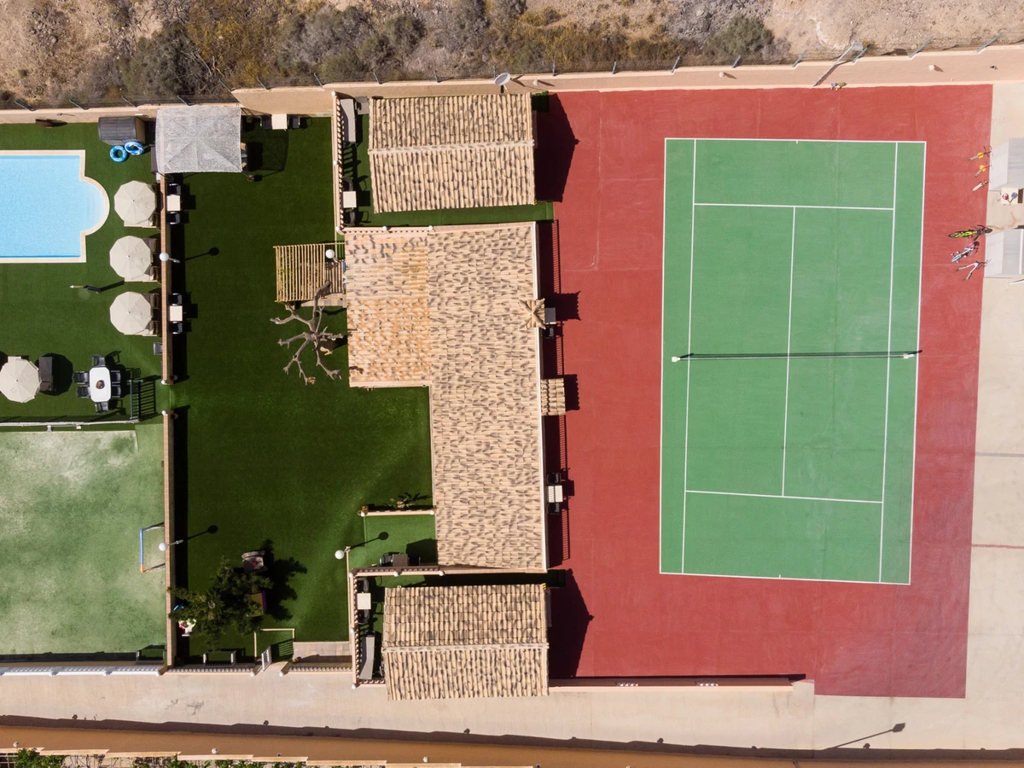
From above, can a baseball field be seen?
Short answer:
No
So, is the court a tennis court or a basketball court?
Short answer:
tennis court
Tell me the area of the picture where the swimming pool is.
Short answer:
top left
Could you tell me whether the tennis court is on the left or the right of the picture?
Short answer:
right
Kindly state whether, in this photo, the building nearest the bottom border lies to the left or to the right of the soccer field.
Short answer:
right of it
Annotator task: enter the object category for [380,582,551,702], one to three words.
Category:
building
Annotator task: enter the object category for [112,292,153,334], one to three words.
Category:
umbrella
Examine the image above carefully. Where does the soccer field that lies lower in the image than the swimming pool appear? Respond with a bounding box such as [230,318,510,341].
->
[0,424,171,669]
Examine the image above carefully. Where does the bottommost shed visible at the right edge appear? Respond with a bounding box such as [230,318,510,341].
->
[986,232,1024,277]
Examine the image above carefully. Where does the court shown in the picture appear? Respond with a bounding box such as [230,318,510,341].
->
[512,90,992,699]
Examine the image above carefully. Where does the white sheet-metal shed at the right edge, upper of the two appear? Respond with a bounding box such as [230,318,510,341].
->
[991,140,1024,188]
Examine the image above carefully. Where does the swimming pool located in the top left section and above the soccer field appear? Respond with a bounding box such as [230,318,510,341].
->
[0,150,109,263]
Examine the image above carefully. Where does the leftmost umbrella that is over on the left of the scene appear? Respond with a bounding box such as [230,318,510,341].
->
[0,360,41,400]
